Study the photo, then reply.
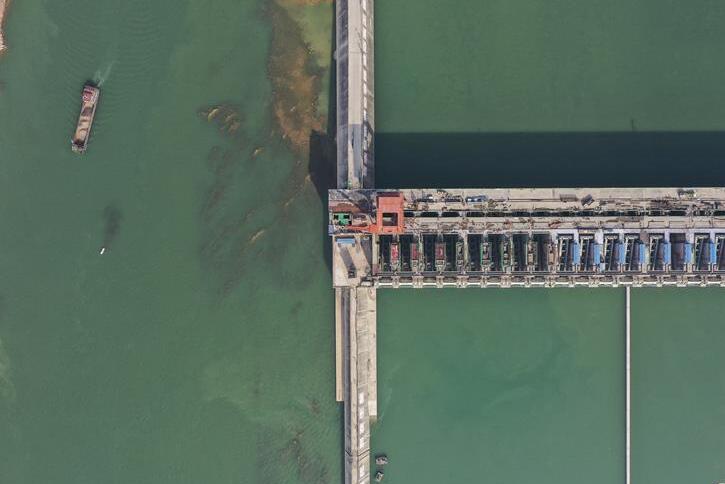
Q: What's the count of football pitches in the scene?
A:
none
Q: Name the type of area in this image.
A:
port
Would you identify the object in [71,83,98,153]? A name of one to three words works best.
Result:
ship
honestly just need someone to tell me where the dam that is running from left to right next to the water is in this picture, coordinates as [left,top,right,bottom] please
[371,188,725,287]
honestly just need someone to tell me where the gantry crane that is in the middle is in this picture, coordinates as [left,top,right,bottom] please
[346,192,404,236]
